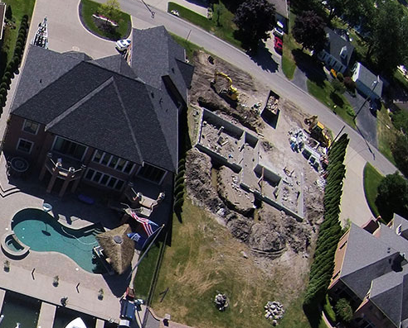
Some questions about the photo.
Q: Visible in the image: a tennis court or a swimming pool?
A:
swimming pool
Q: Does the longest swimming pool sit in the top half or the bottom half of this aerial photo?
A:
bottom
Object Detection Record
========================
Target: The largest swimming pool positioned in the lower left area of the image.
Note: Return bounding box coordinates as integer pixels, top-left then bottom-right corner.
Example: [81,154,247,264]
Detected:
[9,206,107,275]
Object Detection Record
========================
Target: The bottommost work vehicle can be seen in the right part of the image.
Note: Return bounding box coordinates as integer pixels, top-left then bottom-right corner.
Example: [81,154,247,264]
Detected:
[308,115,343,146]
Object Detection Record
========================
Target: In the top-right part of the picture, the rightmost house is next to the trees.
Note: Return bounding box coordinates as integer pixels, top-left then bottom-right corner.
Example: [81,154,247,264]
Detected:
[352,61,383,102]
